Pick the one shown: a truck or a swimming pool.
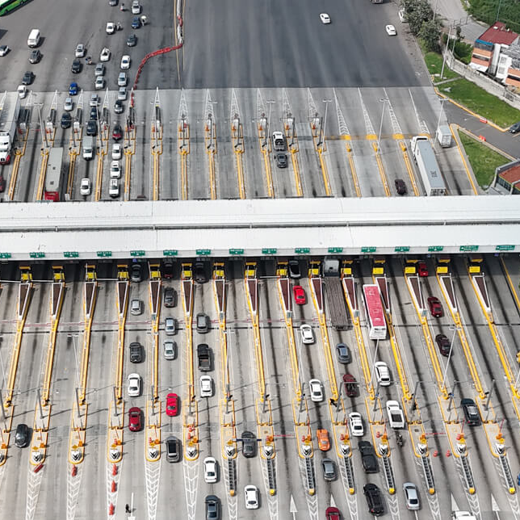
truck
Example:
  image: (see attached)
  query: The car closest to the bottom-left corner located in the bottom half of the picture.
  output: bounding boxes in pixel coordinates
[13,422,30,449]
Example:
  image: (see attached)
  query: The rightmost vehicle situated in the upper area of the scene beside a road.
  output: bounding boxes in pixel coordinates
[506,121,520,134]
